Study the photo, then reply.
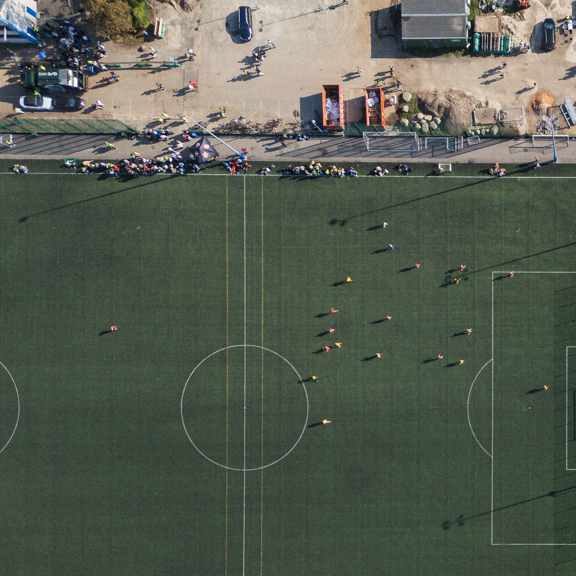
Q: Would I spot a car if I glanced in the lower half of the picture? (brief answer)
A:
No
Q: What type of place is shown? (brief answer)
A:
sports ground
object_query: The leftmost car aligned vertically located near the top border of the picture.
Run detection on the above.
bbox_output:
[238,7,255,43]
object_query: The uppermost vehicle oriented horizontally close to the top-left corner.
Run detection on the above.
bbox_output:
[20,66,88,93]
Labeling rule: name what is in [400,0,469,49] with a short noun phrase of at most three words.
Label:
building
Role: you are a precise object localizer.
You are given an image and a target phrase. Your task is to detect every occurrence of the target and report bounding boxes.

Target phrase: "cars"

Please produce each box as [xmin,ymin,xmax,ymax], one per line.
[238,7,255,43]
[17,95,50,112]
[542,18,558,51]
[50,96,83,112]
